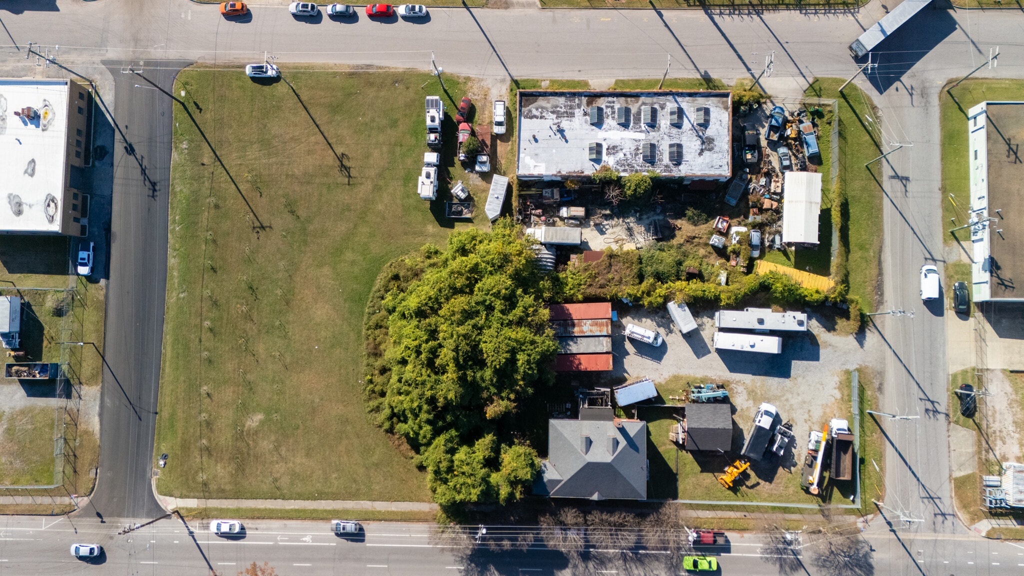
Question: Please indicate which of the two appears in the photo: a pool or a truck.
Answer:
truck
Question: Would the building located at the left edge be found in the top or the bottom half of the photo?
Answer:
top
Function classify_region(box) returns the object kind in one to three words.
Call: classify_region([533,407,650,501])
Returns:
house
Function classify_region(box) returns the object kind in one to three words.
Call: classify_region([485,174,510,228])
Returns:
trailer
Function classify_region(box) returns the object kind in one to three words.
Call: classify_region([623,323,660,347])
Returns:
vehicle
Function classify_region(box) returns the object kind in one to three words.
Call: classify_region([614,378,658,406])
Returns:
shed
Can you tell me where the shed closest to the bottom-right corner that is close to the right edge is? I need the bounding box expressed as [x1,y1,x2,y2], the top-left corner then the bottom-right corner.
[994,461,1024,506]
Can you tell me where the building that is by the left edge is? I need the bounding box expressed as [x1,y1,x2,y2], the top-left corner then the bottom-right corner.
[0,79,89,238]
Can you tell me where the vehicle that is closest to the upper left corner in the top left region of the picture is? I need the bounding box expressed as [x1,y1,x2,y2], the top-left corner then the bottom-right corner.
[220,1,248,16]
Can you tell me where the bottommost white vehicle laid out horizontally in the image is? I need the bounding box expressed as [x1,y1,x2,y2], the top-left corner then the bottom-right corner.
[71,543,103,558]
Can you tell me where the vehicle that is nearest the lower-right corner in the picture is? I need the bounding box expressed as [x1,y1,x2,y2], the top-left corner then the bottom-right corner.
[959,385,976,414]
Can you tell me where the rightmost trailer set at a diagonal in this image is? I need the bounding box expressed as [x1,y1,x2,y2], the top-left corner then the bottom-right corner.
[853,0,930,58]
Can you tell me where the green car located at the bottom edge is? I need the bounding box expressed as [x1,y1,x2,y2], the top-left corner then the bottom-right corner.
[683,556,717,572]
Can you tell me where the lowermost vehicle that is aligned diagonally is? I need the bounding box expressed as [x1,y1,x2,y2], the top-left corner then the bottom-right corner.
[719,458,750,487]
